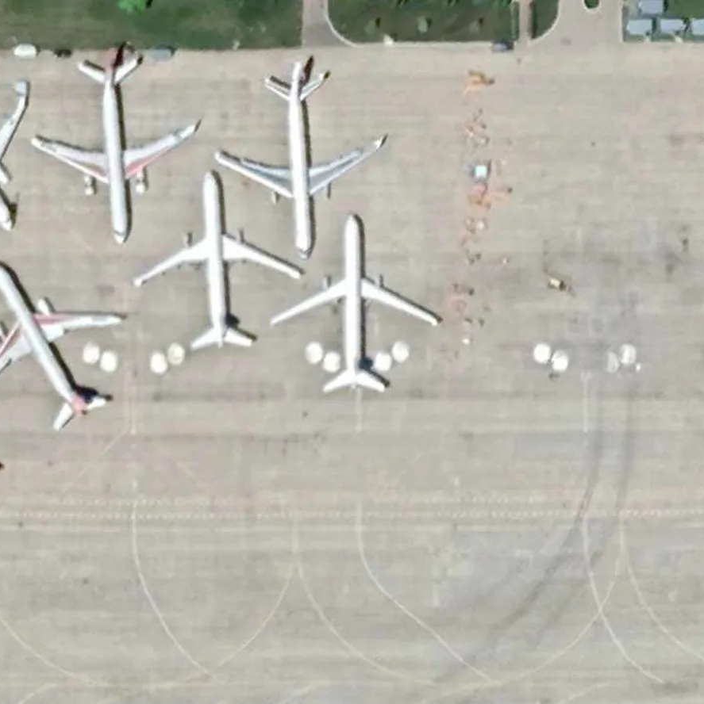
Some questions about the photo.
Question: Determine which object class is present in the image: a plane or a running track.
plane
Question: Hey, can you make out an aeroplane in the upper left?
Yes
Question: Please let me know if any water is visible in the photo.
No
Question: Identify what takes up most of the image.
paved ground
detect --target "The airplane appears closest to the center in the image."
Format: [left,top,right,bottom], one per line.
[271,214,439,390]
